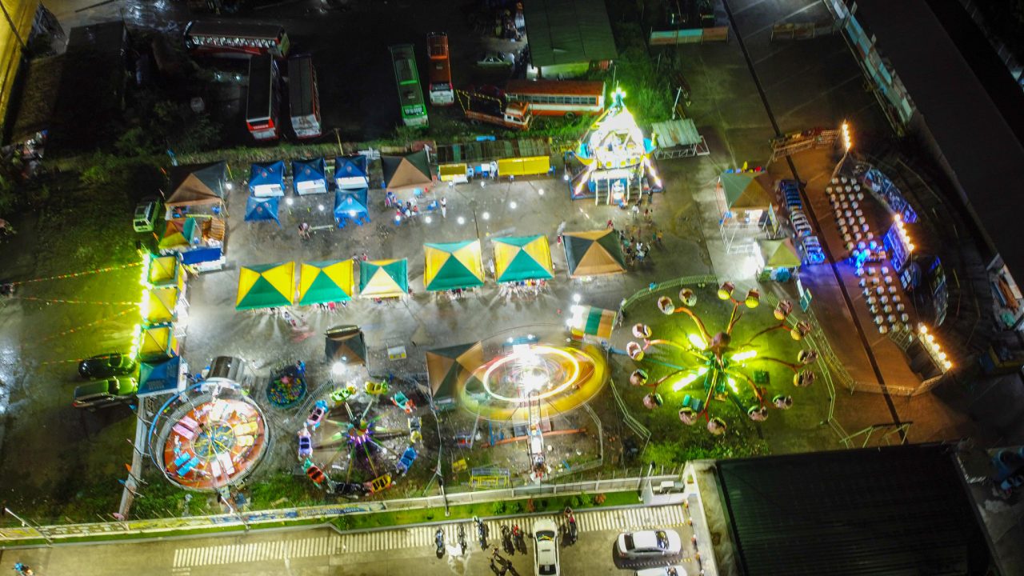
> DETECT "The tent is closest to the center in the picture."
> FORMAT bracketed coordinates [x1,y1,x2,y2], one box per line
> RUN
[492,235,554,296]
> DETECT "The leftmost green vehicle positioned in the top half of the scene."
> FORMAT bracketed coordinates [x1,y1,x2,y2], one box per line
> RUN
[129,200,160,241]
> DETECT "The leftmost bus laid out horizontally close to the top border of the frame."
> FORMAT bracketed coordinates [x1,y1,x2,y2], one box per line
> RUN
[185,22,291,60]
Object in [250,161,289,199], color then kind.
blue tent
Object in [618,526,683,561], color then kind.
white car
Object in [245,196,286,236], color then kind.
blue tent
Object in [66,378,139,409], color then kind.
green truck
